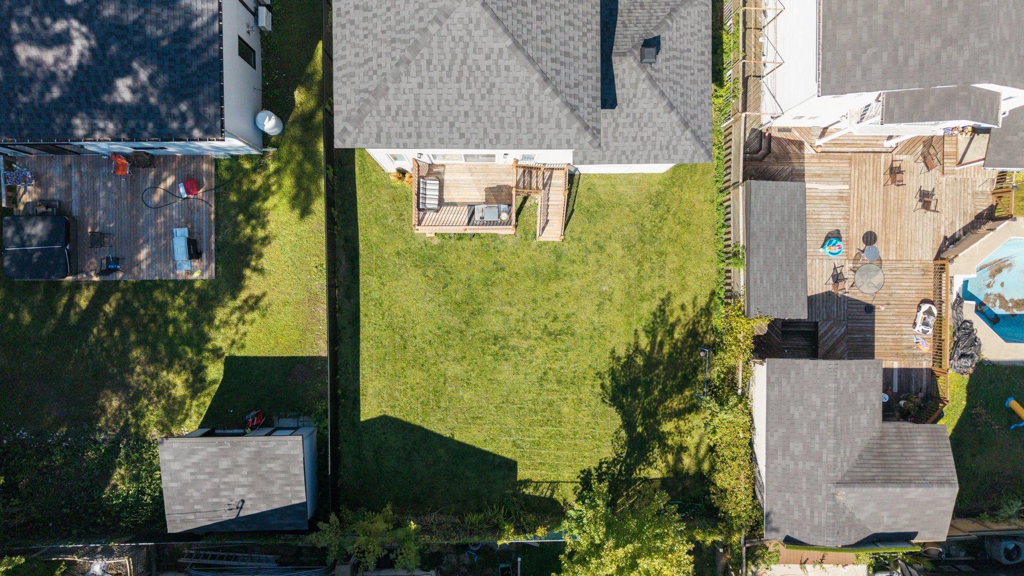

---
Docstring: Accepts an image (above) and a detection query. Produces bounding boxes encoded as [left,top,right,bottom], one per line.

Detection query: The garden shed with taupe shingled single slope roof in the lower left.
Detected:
[158,420,317,533]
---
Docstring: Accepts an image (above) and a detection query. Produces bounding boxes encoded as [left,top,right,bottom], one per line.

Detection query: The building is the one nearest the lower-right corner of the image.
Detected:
[751,358,959,548]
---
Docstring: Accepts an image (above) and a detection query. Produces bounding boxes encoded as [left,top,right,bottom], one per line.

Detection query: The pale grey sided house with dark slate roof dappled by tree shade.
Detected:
[0,0,264,156]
